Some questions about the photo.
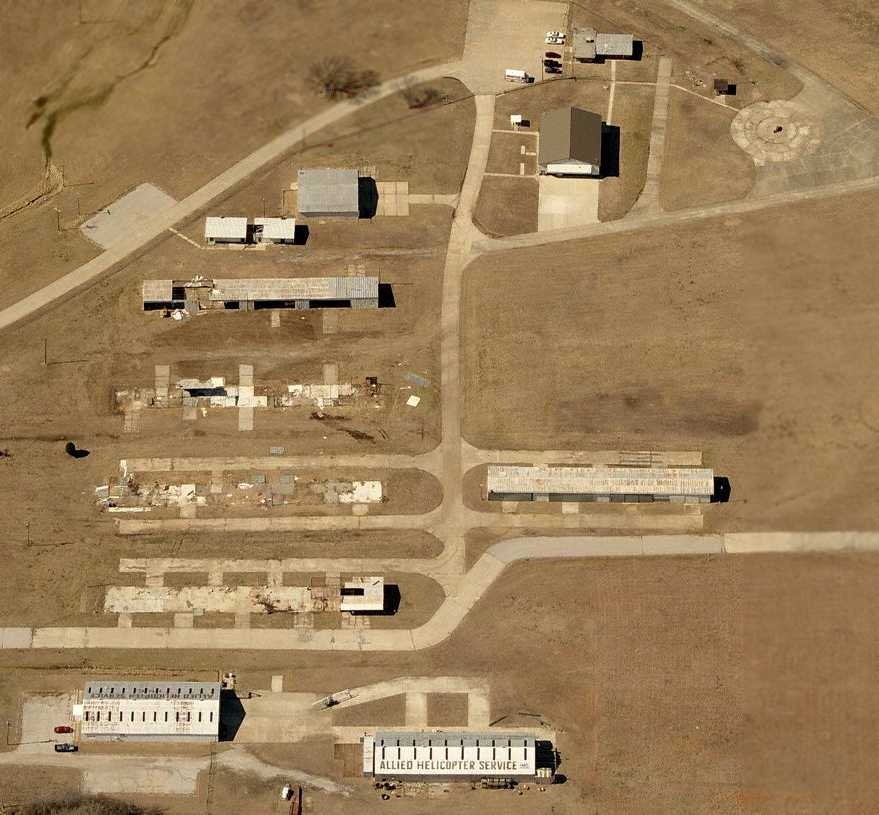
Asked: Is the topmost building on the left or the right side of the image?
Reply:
right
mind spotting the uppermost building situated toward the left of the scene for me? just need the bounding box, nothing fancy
[299,168,359,219]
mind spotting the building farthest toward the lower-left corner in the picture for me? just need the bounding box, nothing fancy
[72,682,221,743]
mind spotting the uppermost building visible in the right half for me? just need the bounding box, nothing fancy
[573,26,632,64]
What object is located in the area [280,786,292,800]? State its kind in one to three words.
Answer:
vehicle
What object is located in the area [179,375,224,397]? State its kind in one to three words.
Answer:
shed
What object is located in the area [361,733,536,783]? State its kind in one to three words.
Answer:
hangar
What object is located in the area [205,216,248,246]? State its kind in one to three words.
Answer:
house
